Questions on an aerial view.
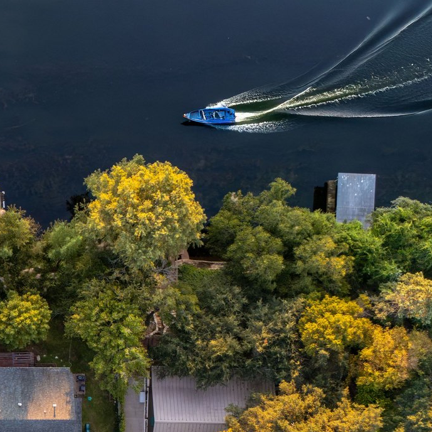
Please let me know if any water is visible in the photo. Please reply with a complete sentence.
Yes, the picture does contain water.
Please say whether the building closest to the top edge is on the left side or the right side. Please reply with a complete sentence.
The building closest to the top edge appears in the right half of the scene.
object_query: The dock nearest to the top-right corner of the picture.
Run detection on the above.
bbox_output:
[324,179,338,227]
